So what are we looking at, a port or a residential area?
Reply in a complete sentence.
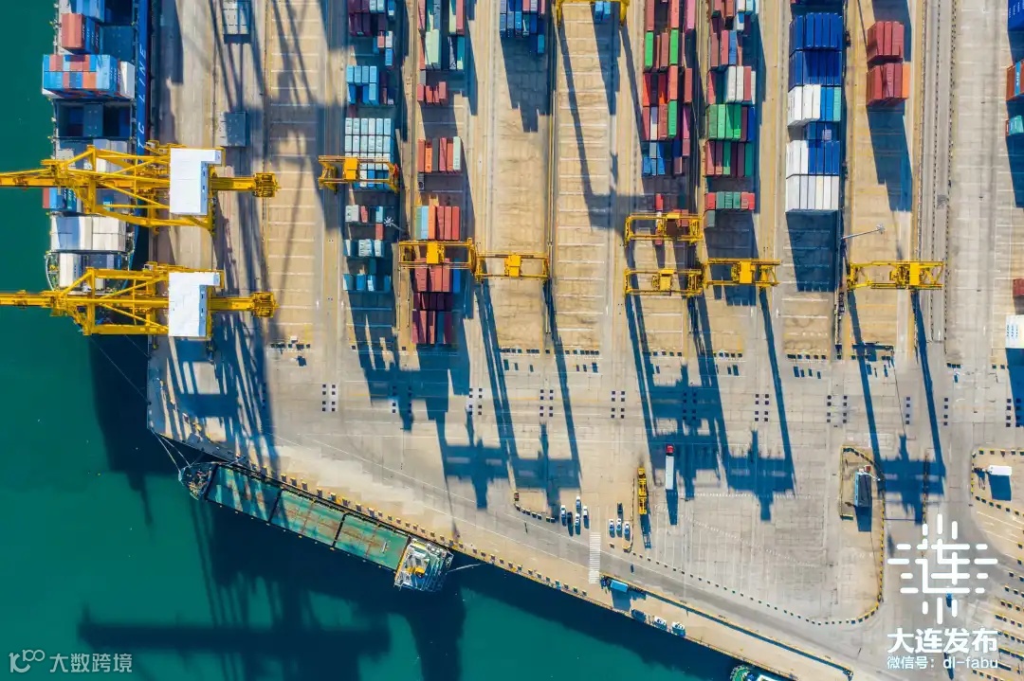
The area seen from above is a port.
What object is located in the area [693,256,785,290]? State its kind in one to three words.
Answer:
container crane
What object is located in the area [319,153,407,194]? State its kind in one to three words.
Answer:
container crane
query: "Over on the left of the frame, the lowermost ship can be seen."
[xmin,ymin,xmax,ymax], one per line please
[179,460,452,590]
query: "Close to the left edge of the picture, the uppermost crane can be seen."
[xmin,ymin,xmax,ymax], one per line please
[0,141,284,236]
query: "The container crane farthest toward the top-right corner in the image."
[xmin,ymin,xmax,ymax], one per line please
[848,258,947,293]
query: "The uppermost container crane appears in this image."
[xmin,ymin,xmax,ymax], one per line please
[552,0,629,27]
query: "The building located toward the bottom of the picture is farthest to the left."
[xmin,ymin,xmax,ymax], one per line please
[857,471,876,507]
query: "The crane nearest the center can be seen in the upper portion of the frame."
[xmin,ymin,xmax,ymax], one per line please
[474,252,552,283]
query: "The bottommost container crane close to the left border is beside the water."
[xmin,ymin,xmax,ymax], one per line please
[0,264,284,342]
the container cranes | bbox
[693,256,785,290]
[319,153,407,194]
[552,0,629,27]
[474,252,552,283]
[621,212,707,248]
[621,266,707,298]
[398,238,479,272]
[0,141,284,236]
[848,258,947,293]
[0,264,284,342]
